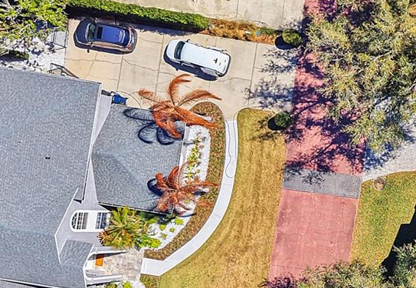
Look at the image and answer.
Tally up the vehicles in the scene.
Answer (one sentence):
The number of vehicles here is 2.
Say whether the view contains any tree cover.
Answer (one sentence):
Yes, tree cover shows up in the scene.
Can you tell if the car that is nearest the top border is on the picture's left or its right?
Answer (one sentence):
It is on the left.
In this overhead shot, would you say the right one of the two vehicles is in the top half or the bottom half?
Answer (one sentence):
The right one of the two vehicles sits in the top half of the picture.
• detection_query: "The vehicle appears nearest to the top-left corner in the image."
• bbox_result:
[74,18,140,54]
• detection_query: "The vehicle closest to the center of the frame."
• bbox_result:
[163,36,235,80]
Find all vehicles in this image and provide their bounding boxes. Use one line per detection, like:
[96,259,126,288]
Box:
[74,18,140,54]
[163,36,235,80]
